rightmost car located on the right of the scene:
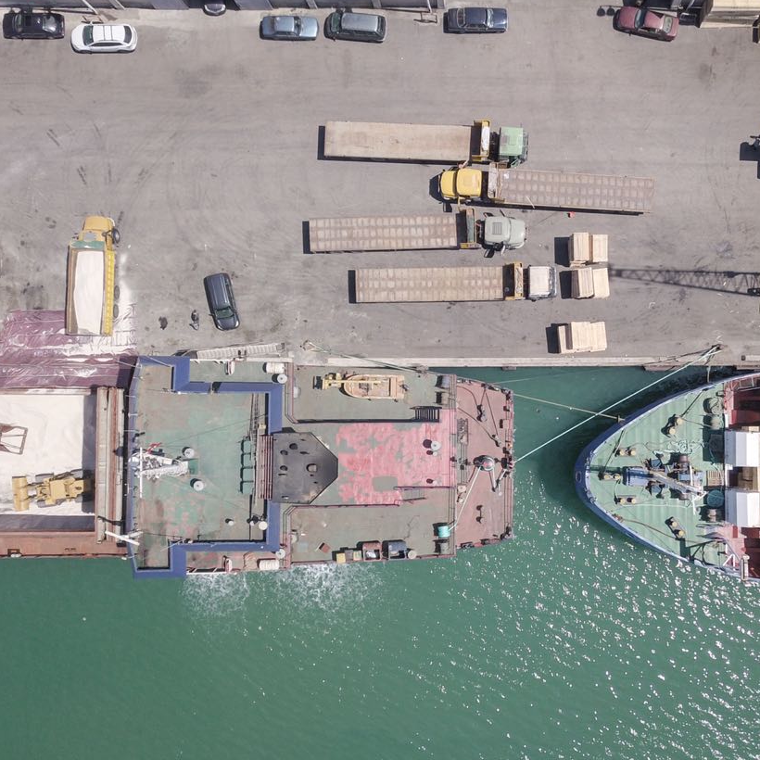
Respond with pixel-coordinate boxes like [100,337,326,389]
[613,6,678,43]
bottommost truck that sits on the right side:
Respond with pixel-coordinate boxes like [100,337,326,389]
[355,260,558,305]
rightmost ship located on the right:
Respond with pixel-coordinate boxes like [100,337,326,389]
[578,372,760,583]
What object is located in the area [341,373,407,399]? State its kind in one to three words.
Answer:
boat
